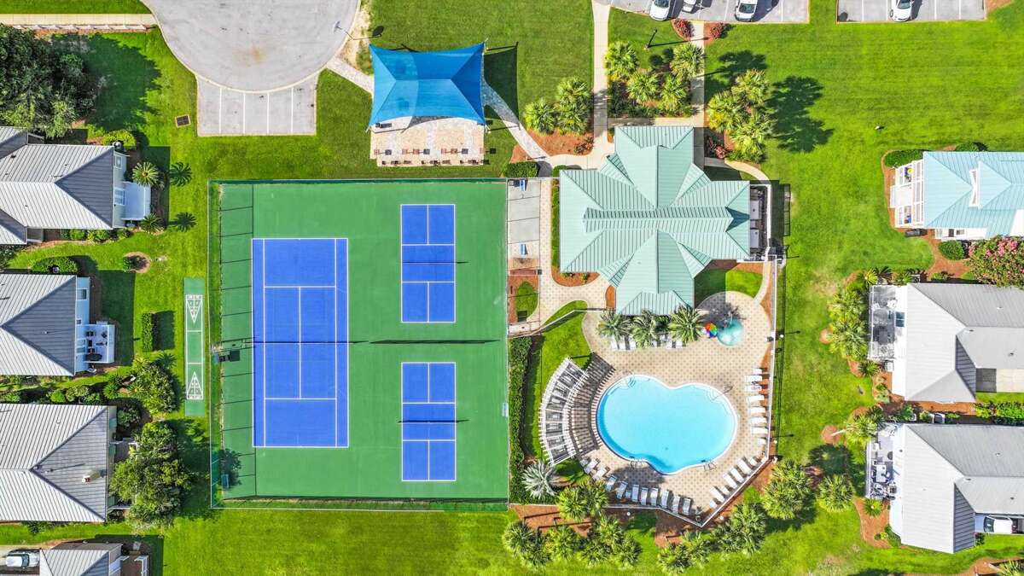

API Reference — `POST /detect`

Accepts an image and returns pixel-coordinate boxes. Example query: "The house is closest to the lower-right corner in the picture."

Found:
[863,422,1024,554]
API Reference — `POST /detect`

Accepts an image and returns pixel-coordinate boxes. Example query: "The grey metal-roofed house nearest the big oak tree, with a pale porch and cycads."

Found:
[0,127,154,245]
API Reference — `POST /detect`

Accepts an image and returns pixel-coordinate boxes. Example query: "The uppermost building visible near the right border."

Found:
[888,151,1024,239]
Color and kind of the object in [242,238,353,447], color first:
blue tennis court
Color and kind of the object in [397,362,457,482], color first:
blue sports court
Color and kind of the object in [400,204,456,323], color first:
blue sports court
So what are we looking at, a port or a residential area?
residential area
